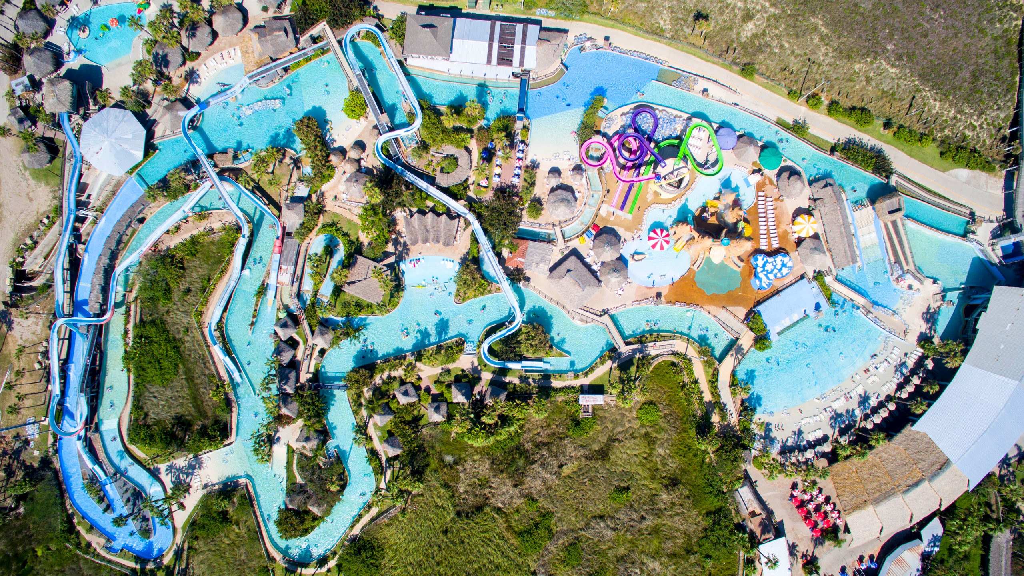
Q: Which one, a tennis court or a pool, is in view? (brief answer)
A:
pool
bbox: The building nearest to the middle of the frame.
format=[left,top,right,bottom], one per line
[549,250,601,310]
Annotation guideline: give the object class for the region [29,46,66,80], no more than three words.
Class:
shed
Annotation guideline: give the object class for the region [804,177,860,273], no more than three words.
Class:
building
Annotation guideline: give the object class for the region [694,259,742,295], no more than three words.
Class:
swimming pool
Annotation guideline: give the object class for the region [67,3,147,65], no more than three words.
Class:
swimming pool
